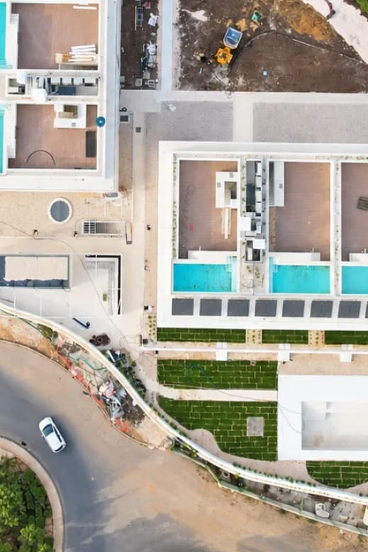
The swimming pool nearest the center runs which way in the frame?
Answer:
from left to right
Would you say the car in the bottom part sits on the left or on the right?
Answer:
left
